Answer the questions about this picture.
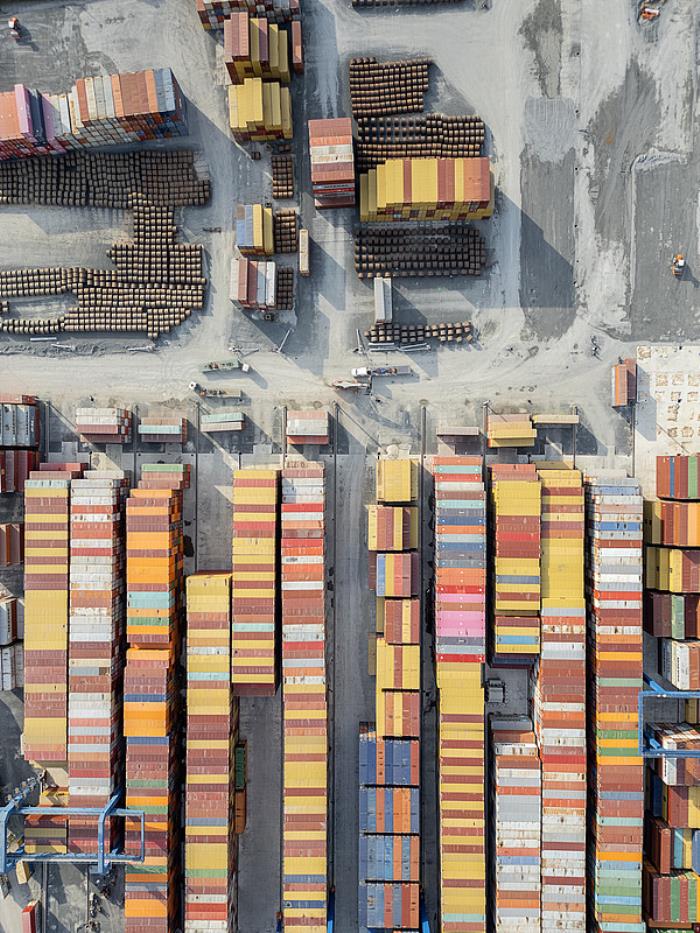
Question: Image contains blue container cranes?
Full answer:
Yes, a blue container crane can be made out from above.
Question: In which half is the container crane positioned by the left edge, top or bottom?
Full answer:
The container crane positioned by the left edge sits in the bottom half of the picture.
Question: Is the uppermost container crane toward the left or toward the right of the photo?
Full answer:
The uppermost container crane is on the right side of the image.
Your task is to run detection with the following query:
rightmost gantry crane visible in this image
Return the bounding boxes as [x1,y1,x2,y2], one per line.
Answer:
[638,674,700,766]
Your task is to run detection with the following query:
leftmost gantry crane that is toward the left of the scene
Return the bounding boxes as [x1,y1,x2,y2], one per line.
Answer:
[0,774,145,875]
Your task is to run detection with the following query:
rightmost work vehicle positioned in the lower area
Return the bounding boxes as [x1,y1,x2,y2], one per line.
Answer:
[487,682,503,702]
